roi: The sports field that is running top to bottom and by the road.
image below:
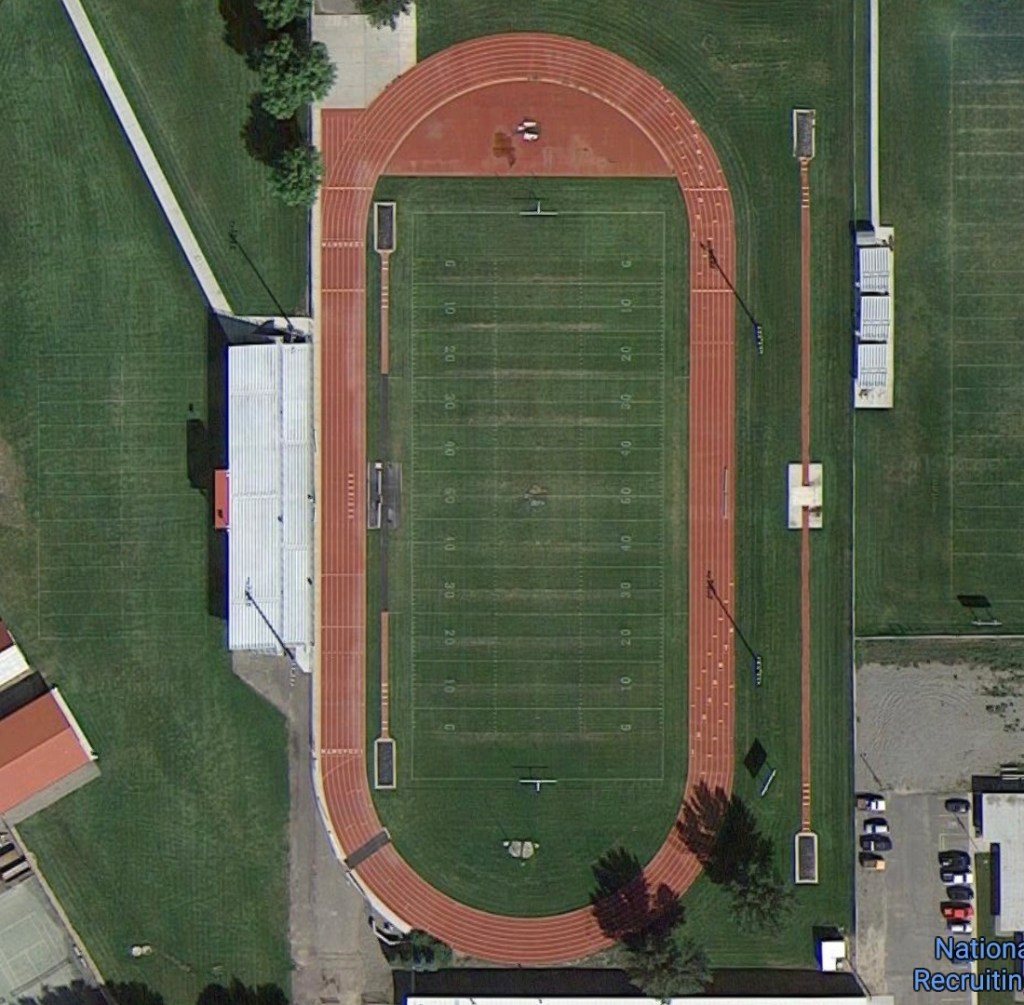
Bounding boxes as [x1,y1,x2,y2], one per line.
[366,178,690,916]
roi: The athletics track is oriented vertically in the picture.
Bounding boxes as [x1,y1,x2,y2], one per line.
[320,33,735,961]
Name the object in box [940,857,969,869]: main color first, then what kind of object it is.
black vehicle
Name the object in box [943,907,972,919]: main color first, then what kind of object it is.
red vehicle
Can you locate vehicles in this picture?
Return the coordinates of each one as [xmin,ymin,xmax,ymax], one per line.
[862,859,886,870]
[943,907,972,919]
[949,889,972,900]
[943,873,972,884]
[940,857,969,869]
[949,923,973,933]
[857,798,885,811]
[864,823,887,834]
[946,801,969,812]
[950,956,973,967]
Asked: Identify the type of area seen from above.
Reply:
sports ground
